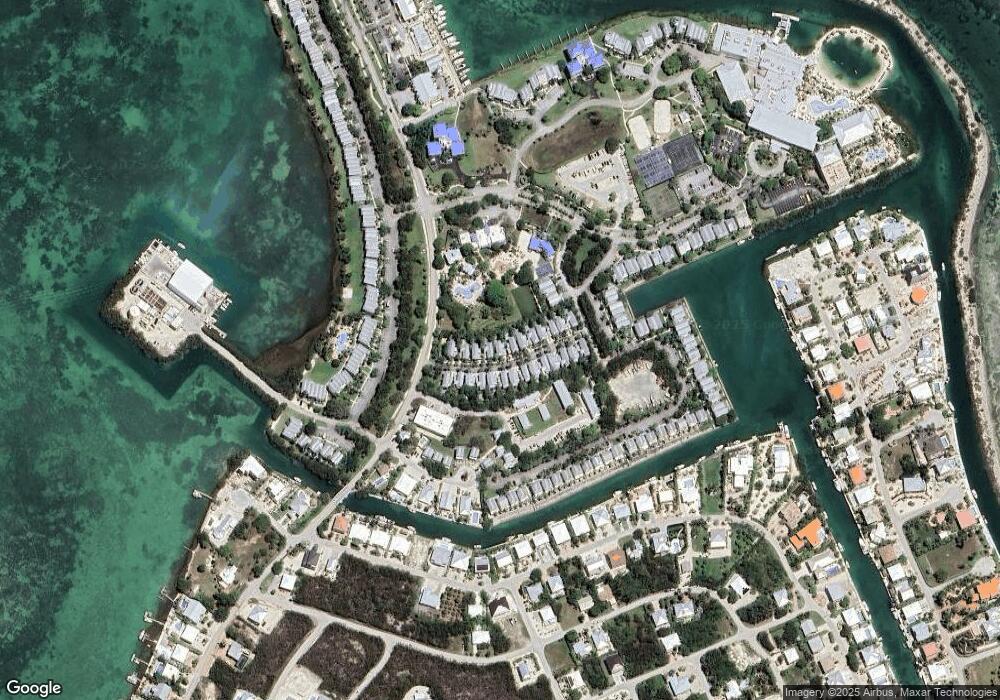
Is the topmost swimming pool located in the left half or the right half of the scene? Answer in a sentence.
The topmost swimming pool sits on the right side.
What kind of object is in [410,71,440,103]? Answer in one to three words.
building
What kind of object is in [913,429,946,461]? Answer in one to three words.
house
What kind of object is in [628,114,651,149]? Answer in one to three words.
sports court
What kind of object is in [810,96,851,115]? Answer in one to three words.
swimming pool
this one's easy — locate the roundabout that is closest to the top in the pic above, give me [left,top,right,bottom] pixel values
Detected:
[750,142,785,177]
